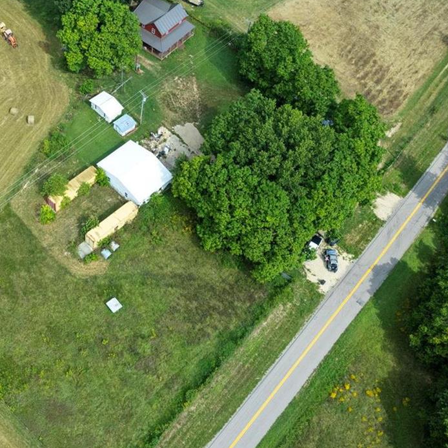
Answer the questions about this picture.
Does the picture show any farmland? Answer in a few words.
Yes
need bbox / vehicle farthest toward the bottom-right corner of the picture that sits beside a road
[323,247,343,275]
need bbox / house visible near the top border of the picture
[133,0,195,61]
